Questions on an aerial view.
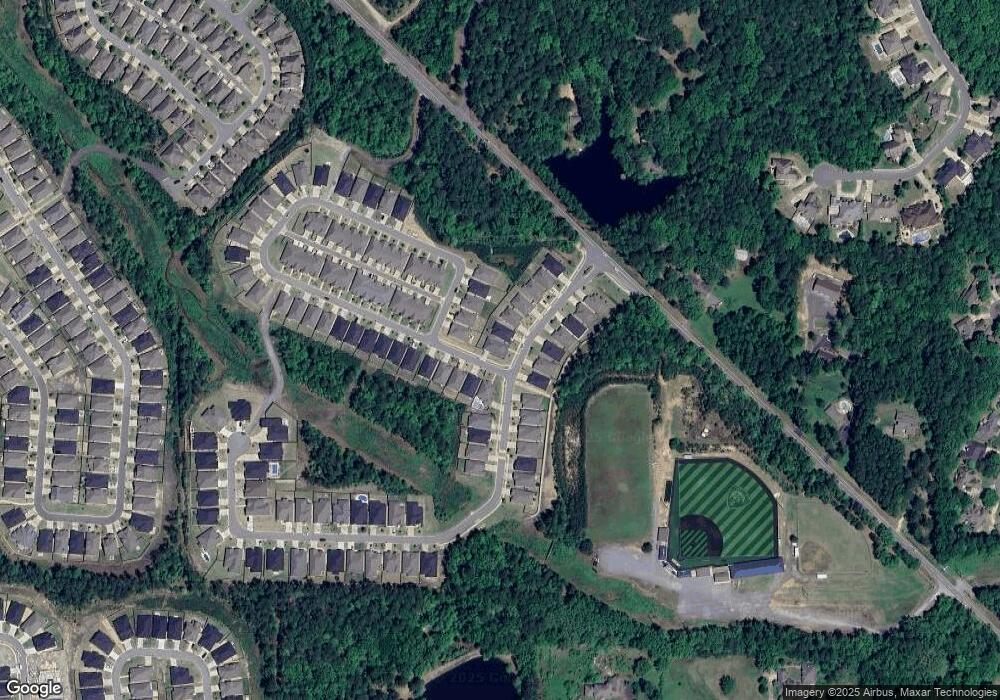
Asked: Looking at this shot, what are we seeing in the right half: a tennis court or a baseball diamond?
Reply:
baseball diamond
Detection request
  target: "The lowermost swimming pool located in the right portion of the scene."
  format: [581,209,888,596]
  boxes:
[839,398,854,413]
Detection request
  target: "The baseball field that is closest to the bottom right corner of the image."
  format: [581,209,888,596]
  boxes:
[798,503,872,573]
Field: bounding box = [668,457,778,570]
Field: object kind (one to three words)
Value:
baseball field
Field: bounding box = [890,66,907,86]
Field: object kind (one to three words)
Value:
swimming pool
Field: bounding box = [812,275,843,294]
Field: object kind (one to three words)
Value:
building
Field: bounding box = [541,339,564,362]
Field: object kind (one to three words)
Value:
house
